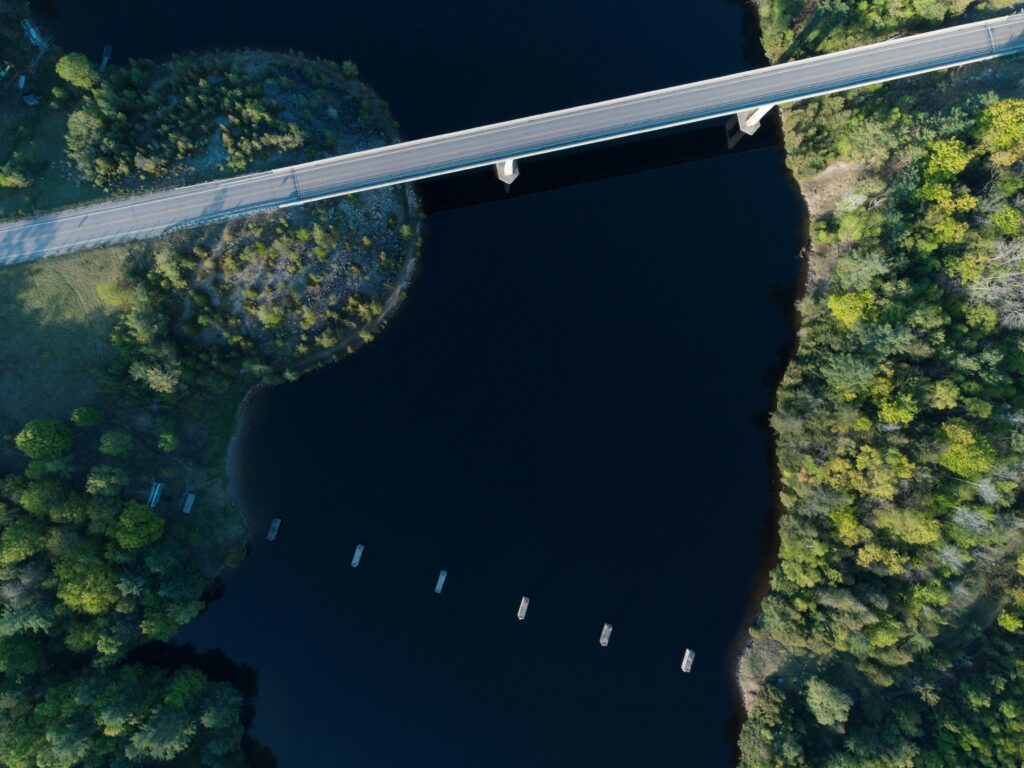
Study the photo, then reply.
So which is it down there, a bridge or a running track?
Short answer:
bridge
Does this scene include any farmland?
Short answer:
No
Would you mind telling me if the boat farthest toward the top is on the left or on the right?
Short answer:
left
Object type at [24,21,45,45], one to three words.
boat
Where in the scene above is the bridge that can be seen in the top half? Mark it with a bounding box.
[269,16,1005,205]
